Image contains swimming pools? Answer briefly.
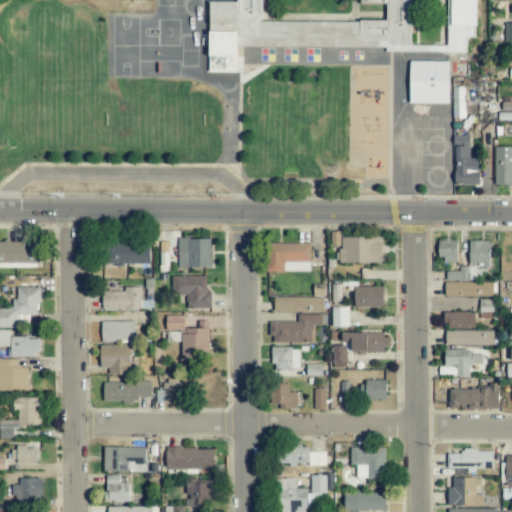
No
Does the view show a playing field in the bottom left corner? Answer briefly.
No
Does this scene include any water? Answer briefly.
No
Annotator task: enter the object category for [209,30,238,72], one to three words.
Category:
building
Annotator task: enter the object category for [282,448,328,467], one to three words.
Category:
house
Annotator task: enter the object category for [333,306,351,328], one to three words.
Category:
building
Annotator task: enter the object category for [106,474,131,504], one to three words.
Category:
house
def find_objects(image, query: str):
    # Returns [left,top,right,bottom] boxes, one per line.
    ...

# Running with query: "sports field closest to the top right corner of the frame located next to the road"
[244,66,350,178]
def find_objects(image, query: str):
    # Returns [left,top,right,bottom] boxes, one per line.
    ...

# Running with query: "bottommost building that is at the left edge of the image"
[12,478,44,500]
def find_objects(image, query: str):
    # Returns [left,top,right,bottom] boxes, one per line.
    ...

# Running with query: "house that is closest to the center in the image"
[268,243,312,273]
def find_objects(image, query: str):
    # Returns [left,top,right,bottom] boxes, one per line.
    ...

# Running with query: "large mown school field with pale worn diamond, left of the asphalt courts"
[0,0,223,184]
